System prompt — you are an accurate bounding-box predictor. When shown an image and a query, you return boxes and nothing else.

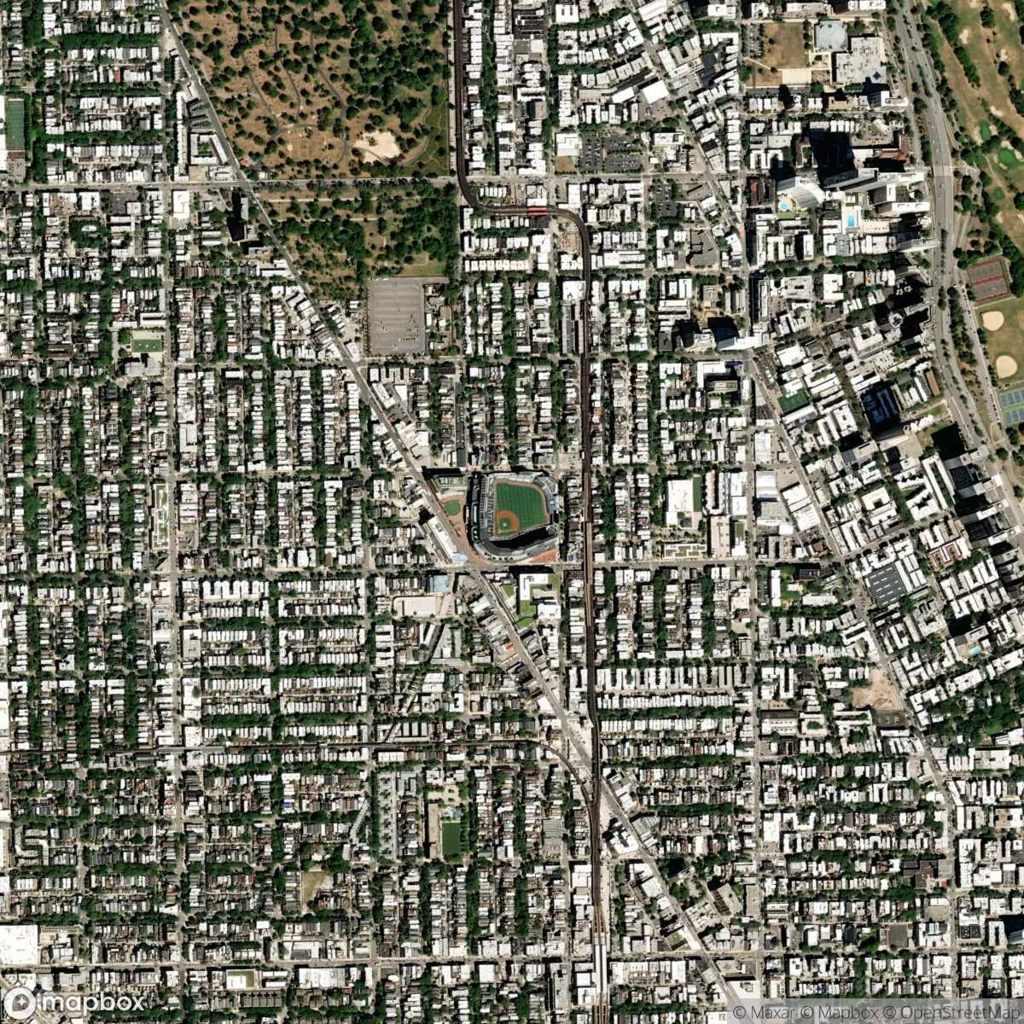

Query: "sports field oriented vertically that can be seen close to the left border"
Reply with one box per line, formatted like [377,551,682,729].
[7,99,25,158]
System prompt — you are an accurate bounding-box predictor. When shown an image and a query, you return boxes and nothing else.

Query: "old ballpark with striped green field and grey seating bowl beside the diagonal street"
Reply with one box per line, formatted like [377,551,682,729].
[468,473,559,564]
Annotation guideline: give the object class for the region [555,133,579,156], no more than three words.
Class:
building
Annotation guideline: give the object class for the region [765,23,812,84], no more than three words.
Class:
sports field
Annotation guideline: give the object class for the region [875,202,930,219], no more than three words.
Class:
building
